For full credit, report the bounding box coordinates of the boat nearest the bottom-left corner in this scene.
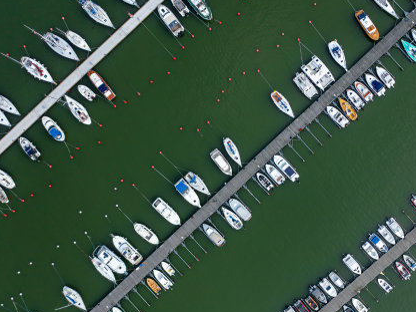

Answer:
[55,286,93,310]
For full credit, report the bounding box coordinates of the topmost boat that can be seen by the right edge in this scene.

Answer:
[374,0,405,25]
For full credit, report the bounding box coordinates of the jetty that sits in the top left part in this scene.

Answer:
[0,0,167,157]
